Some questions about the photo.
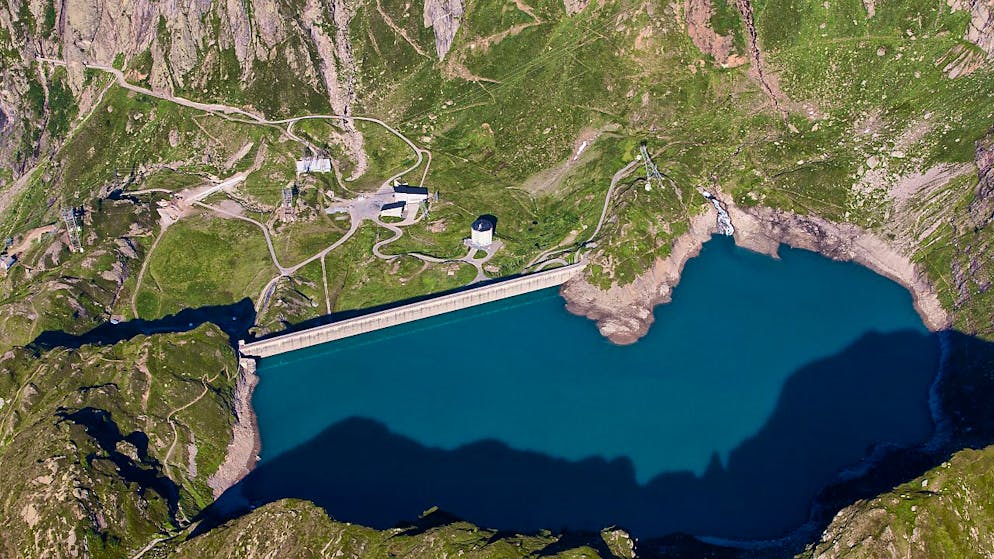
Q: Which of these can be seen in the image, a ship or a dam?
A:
dam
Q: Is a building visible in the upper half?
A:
Yes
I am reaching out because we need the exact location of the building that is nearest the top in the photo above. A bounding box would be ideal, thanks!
[297,159,331,174]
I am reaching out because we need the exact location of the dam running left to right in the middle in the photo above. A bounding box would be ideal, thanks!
[246,258,572,357]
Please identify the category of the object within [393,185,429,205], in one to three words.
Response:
building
